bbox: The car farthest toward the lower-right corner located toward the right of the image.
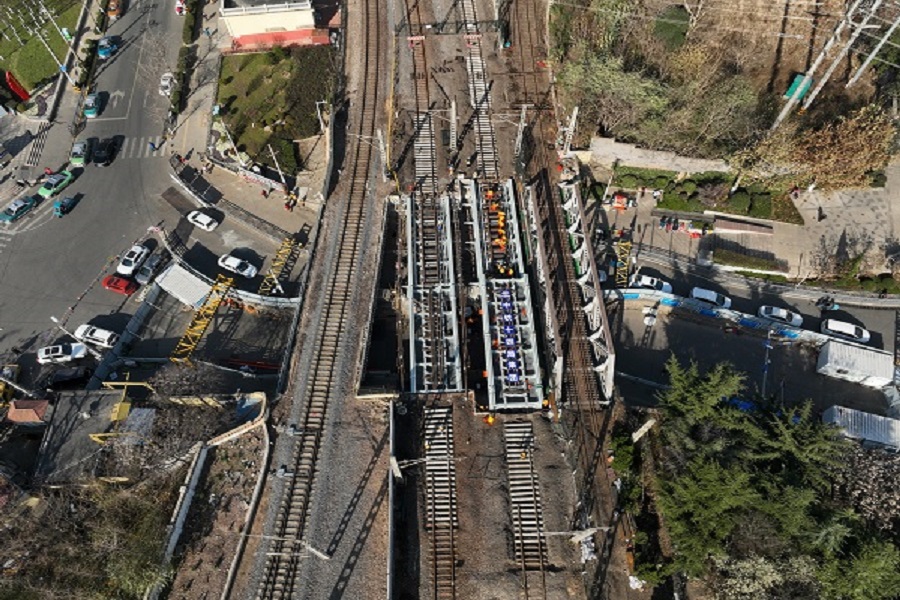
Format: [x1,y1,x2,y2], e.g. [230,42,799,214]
[817,314,873,347]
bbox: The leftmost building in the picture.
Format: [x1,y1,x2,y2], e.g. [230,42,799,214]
[5,398,53,424]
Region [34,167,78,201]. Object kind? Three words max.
car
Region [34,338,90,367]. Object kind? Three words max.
car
